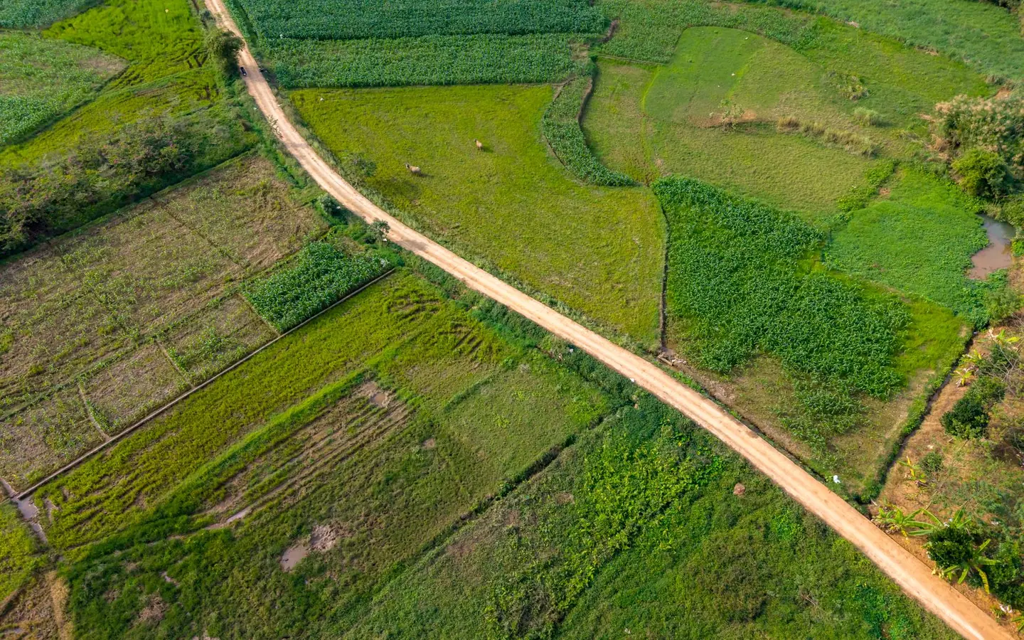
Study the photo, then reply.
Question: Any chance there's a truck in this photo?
No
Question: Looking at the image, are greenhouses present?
No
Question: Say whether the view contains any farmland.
Yes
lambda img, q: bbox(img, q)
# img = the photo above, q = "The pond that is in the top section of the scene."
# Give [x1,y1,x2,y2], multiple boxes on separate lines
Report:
[967,217,1014,280]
